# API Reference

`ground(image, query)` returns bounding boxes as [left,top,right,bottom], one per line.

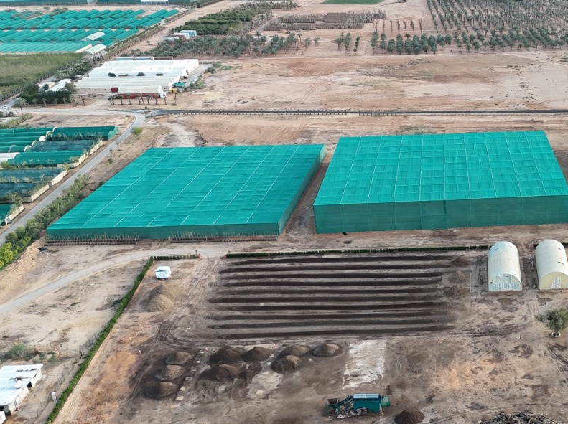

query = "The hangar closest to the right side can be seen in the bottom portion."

[535,236,568,289]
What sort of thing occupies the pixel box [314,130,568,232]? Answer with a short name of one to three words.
house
